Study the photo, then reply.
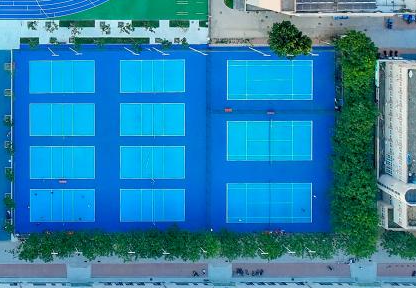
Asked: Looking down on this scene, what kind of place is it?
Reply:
sports ground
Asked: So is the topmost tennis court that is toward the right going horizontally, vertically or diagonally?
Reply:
horizontally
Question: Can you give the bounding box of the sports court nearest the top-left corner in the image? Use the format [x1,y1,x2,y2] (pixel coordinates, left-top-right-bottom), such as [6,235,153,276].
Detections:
[29,60,95,93]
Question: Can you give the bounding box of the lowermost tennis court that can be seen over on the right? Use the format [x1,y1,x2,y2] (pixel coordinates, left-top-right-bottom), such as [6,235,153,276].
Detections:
[227,183,313,223]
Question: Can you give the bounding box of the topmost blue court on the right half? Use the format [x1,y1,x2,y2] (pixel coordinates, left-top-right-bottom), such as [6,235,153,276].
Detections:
[227,60,313,100]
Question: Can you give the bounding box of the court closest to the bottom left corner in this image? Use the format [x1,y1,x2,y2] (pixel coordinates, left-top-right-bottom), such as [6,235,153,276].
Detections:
[29,189,95,222]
